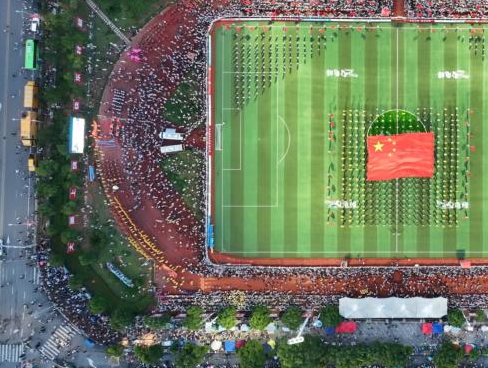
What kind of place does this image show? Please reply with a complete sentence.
This looks like a sports ground.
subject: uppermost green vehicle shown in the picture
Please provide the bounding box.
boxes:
[26,38,40,70]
